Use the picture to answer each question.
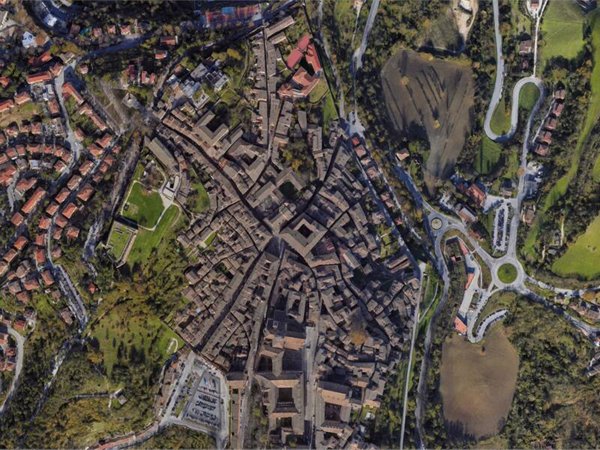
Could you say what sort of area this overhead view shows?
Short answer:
residential area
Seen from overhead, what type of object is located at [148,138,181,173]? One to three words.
building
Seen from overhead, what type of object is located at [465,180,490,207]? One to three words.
house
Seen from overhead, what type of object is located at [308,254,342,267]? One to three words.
house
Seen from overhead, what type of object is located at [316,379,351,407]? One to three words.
building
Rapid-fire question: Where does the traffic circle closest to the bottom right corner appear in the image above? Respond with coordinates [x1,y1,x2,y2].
[492,257,524,289]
